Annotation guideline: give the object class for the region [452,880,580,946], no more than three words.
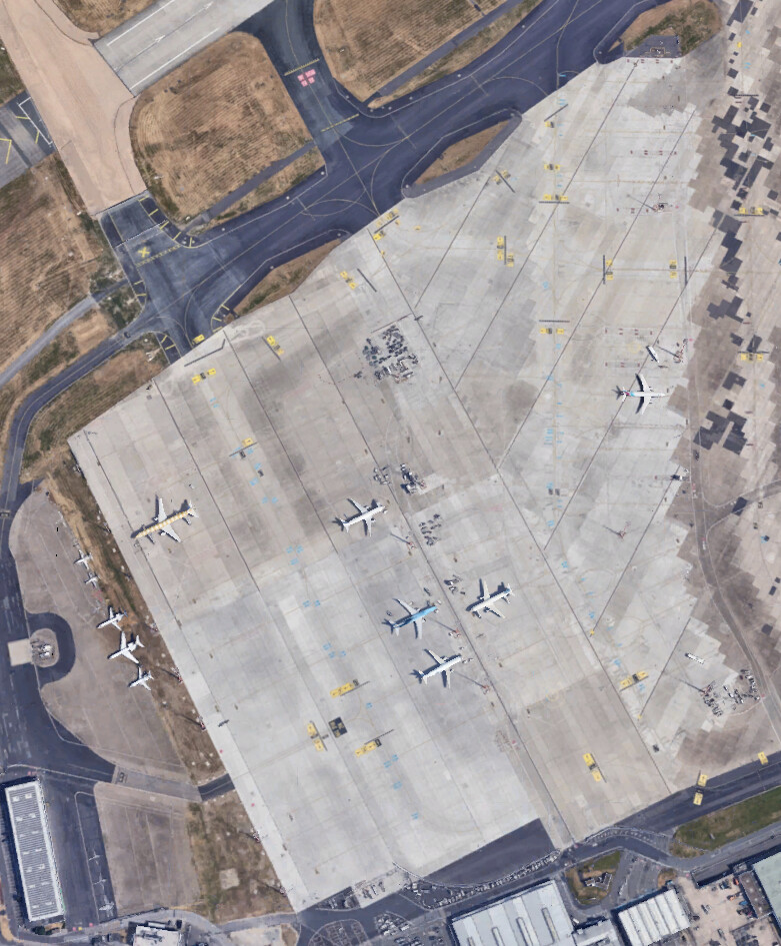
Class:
hangar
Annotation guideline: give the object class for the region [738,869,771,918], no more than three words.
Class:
building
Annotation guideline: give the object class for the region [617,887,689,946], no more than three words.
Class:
building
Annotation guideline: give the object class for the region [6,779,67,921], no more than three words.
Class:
hangar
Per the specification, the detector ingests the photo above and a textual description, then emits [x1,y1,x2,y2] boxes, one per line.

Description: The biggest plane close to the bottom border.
[99,896,116,916]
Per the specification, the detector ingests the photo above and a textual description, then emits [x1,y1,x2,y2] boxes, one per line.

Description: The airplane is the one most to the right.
[621,372,665,416]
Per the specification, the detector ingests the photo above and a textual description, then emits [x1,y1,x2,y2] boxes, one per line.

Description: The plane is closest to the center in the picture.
[339,498,385,539]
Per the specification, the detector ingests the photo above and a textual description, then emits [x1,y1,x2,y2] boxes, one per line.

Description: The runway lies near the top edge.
[94,0,273,96]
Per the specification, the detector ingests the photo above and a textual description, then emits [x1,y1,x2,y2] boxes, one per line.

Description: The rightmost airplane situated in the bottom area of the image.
[471,577,515,619]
